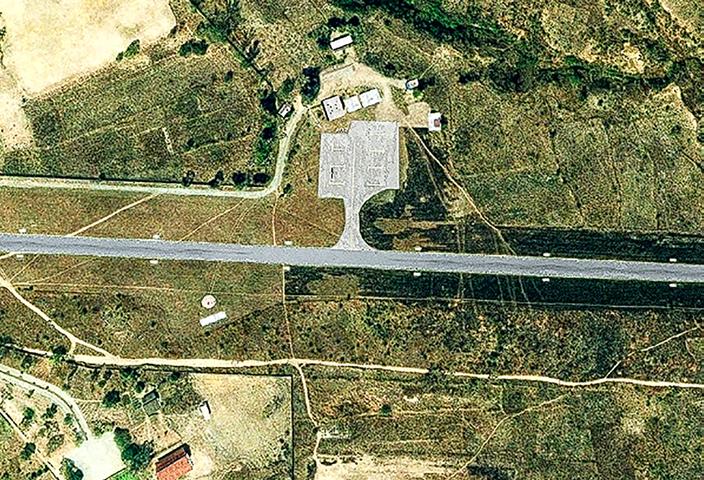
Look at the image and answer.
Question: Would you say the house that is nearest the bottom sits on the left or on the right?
left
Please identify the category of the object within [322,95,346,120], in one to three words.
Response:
building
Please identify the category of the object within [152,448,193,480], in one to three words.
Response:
house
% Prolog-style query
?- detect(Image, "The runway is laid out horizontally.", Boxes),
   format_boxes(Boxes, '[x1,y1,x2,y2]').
[0,234,704,283]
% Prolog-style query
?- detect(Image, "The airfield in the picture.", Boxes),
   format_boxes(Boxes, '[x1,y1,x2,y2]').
[0,121,704,283]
